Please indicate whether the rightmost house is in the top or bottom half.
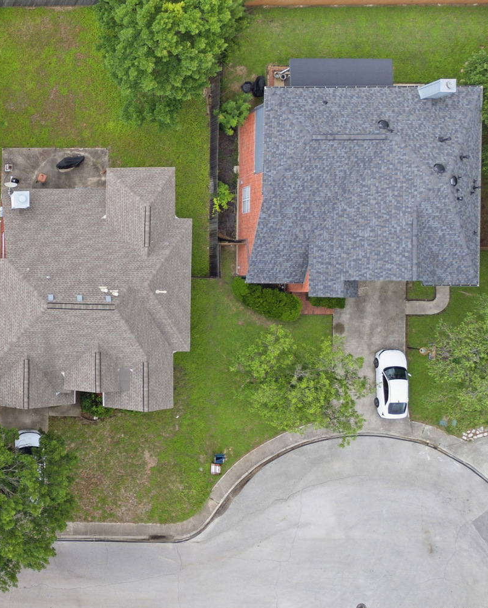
top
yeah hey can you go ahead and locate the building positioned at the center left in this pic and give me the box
[0,167,193,412]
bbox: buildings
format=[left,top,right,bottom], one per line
[237,78,483,297]
[0,167,193,412]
